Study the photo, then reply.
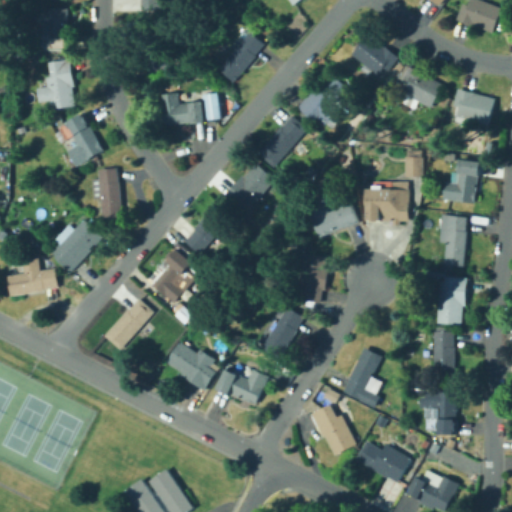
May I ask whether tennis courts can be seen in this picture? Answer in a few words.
Yes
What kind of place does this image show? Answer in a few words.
residential area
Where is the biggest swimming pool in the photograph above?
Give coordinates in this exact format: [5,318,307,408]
[212,339,228,354]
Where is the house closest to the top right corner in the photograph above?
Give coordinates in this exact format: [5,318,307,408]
[458,0,500,32]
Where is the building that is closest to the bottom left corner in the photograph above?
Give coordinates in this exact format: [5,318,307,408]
[130,478,168,512]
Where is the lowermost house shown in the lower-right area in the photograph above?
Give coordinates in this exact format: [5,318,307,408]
[408,472,458,512]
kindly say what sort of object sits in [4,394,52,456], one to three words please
tennis court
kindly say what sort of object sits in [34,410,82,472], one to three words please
tennis court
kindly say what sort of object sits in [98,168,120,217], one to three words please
house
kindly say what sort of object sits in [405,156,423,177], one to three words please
building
